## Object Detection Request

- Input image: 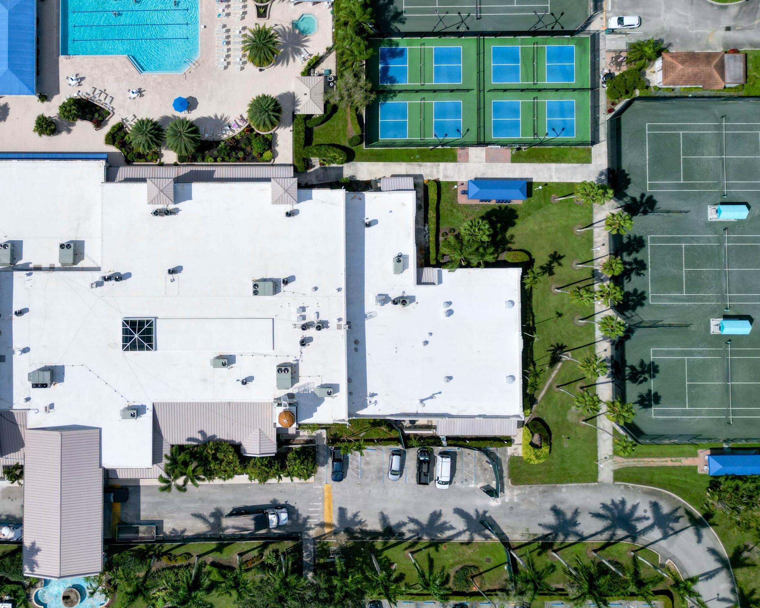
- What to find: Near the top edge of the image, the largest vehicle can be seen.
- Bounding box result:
[611,13,643,28]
